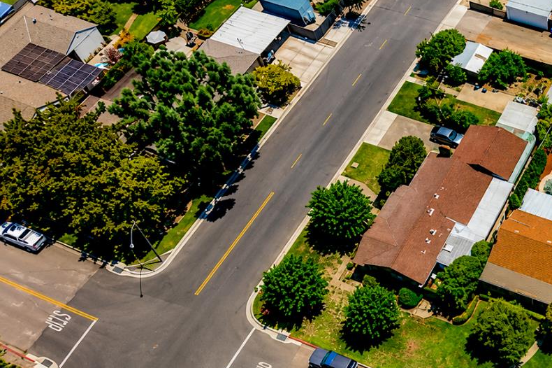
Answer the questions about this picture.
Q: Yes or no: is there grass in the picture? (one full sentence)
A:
Yes, grass can be seen from above here.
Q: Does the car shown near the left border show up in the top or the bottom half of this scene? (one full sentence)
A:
You can find the car shown near the left border in the bottom half.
